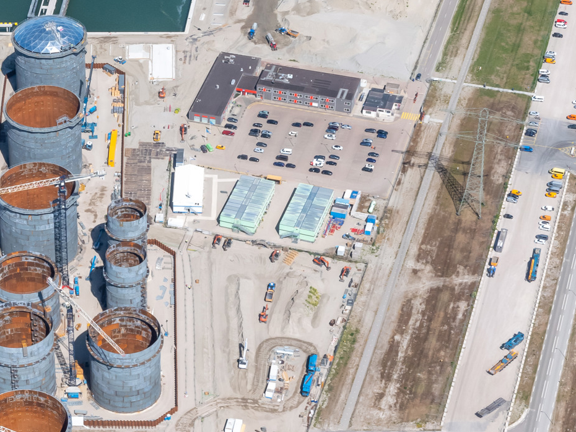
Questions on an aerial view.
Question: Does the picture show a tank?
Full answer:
Yes, there is a tank in the image.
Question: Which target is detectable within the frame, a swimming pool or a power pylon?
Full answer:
Looking from above, you can make out a power pylon.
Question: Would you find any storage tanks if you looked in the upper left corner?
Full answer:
Yes, looking in the upper left corner, one can make out a storage tank.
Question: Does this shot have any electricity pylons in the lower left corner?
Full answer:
No, I can find no electricity pylon in the lower left corner.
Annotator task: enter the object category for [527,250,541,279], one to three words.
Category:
vehicle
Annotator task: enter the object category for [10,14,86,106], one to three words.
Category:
storage tank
